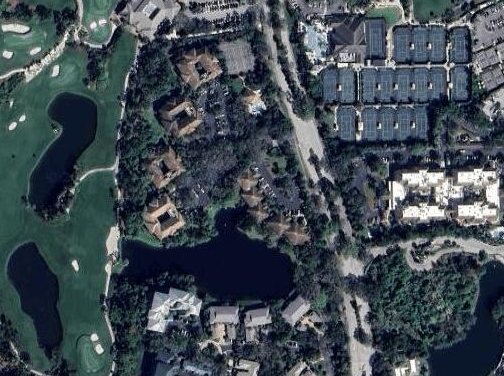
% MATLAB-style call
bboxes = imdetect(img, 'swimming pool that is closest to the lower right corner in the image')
[490,227,504,240]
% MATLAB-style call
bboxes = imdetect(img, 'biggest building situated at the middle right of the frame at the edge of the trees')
[387,166,499,225]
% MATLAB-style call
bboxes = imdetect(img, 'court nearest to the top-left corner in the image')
[224,42,255,75]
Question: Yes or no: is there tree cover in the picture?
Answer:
Yes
